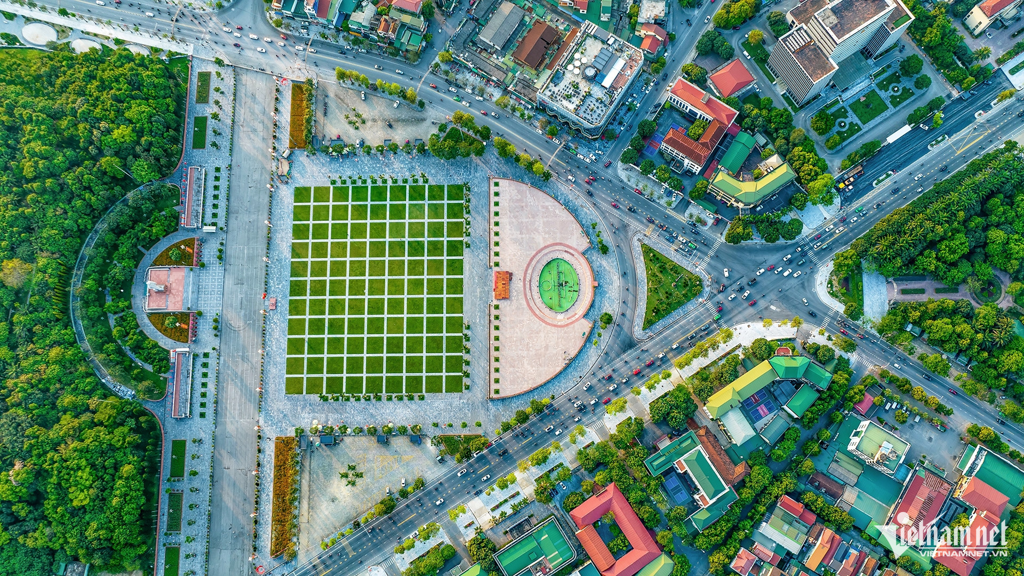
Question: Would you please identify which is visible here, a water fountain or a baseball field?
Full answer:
I can see a water fountain in this picture.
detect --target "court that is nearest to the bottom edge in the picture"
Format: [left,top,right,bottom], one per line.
[663,472,692,505]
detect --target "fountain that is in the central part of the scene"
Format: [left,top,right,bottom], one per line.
[524,242,598,327]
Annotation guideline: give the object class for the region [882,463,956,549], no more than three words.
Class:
building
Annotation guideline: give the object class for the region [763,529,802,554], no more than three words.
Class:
house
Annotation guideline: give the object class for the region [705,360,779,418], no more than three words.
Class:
building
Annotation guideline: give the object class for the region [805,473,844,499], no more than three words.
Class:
house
